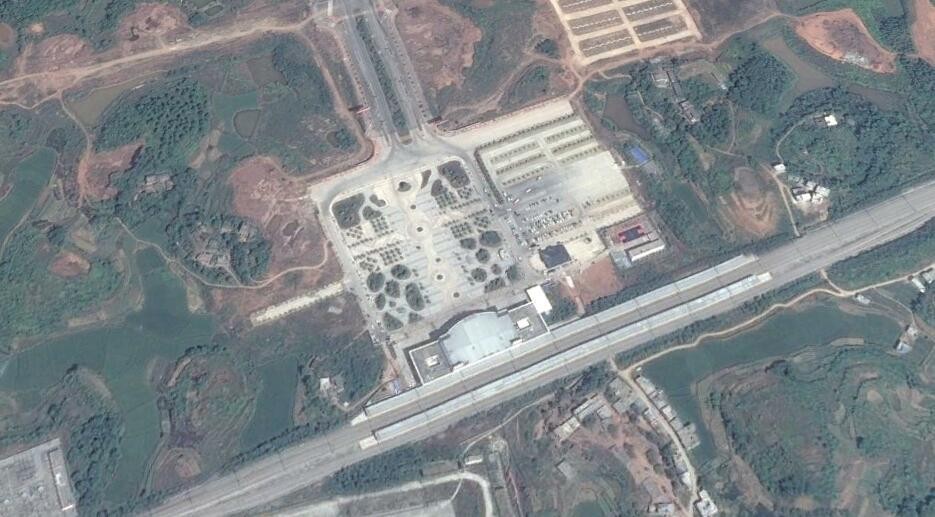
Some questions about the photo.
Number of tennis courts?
0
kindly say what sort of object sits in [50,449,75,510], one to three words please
building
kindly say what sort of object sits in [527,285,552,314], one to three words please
building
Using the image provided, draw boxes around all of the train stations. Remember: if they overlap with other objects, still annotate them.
[409,301,549,385]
